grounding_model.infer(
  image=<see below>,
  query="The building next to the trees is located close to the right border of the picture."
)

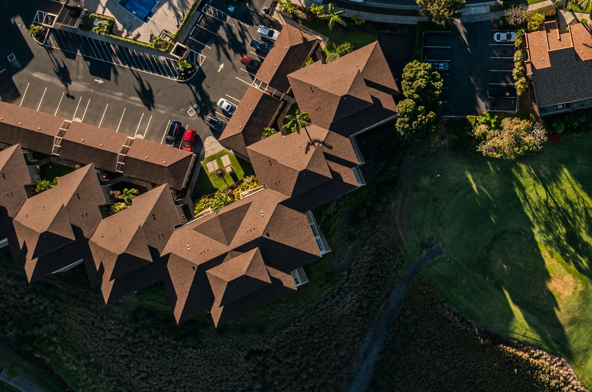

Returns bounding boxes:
[526,17,592,113]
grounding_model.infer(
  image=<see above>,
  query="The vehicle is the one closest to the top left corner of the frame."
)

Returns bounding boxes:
[166,121,183,146]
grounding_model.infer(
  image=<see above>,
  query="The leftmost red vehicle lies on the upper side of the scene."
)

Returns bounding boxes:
[183,129,197,151]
